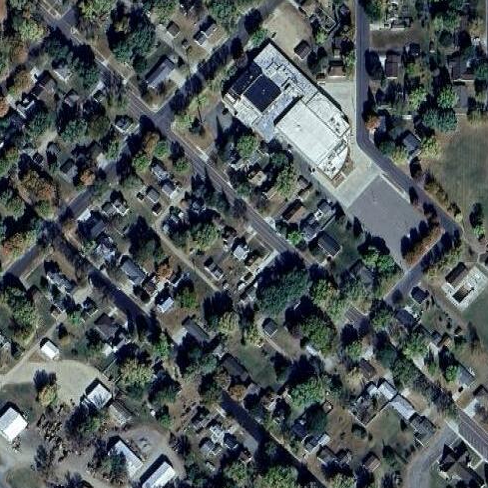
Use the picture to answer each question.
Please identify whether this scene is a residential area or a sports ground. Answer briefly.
residential area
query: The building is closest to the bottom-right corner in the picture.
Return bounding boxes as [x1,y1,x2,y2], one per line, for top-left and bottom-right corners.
[438,446,483,486]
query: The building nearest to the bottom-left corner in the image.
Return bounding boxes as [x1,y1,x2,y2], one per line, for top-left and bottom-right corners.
[0,409,27,443]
